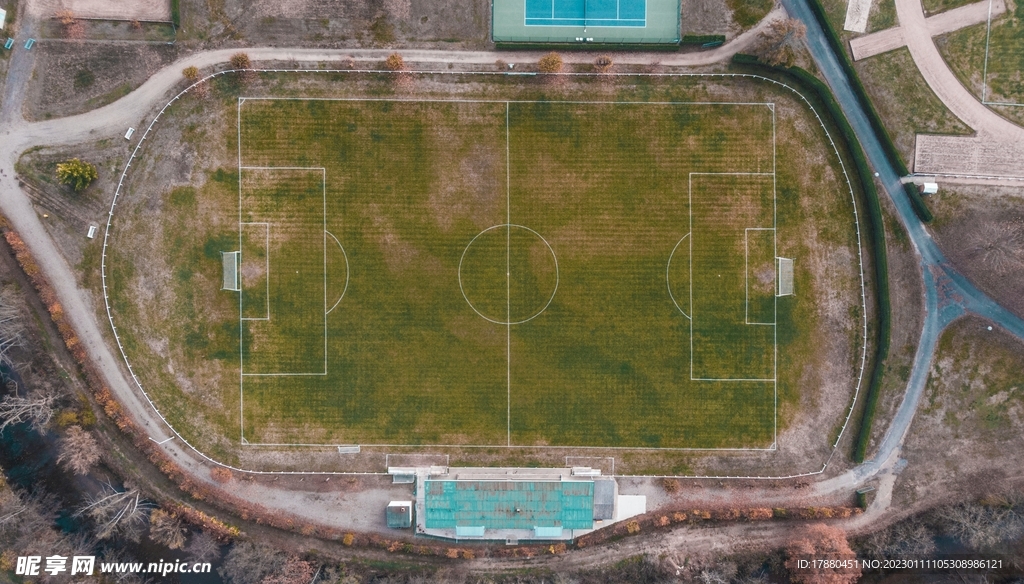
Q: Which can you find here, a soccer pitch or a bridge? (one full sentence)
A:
I can see a soccer pitch in this picture.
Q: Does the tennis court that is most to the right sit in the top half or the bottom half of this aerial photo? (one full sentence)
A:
The top half of the photo is where the tennis court that is most to the right is.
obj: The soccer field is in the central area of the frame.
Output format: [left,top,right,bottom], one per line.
[239,98,776,470]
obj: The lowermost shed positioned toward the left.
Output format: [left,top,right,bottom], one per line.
[388,503,412,528]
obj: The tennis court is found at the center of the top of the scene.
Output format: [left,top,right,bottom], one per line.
[493,0,678,44]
